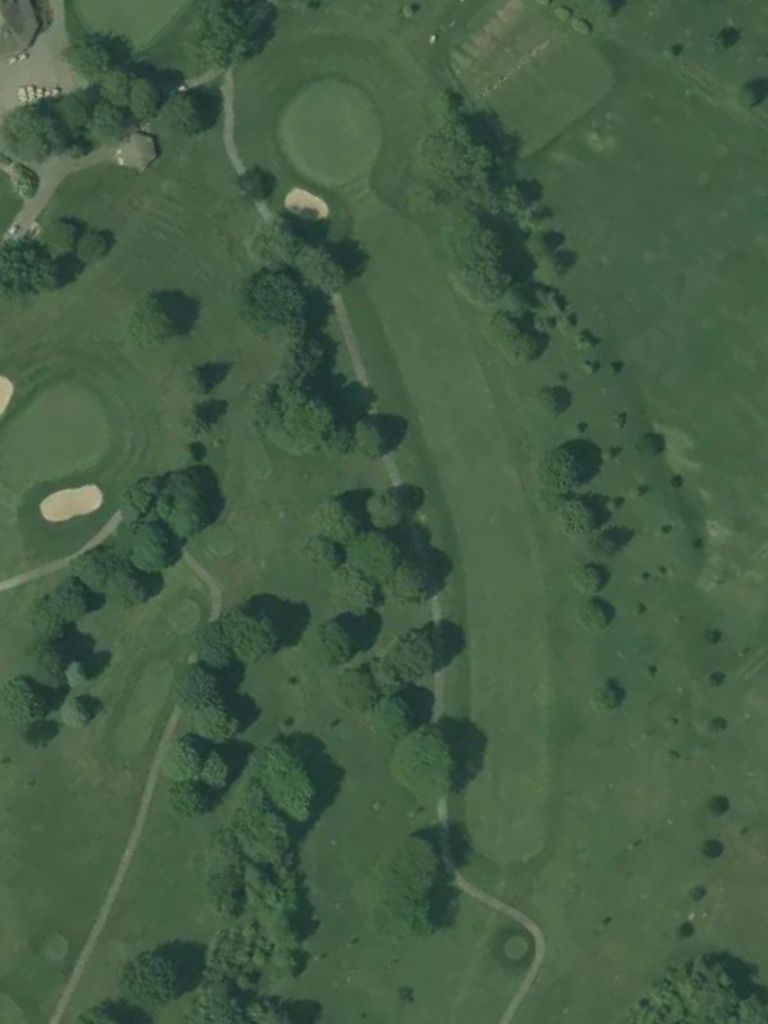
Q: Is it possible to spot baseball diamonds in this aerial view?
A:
No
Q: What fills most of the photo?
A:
grass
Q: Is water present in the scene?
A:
No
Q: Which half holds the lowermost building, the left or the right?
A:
left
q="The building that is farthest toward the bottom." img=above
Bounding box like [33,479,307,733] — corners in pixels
[124,131,156,171]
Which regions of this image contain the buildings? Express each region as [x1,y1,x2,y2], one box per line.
[124,131,156,171]
[0,0,38,54]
